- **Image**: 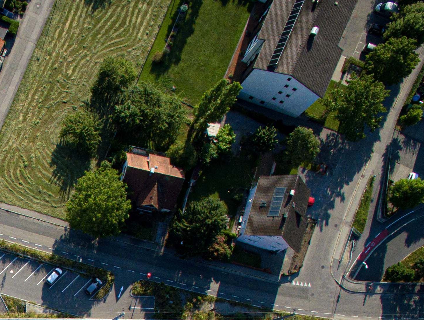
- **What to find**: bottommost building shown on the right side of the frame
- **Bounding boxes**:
[239,178,315,253]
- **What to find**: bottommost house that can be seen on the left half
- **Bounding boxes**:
[117,146,185,215]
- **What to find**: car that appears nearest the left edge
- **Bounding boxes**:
[46,267,63,286]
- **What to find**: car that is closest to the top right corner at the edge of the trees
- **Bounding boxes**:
[374,2,398,15]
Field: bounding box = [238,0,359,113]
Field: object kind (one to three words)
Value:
building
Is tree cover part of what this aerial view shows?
Yes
